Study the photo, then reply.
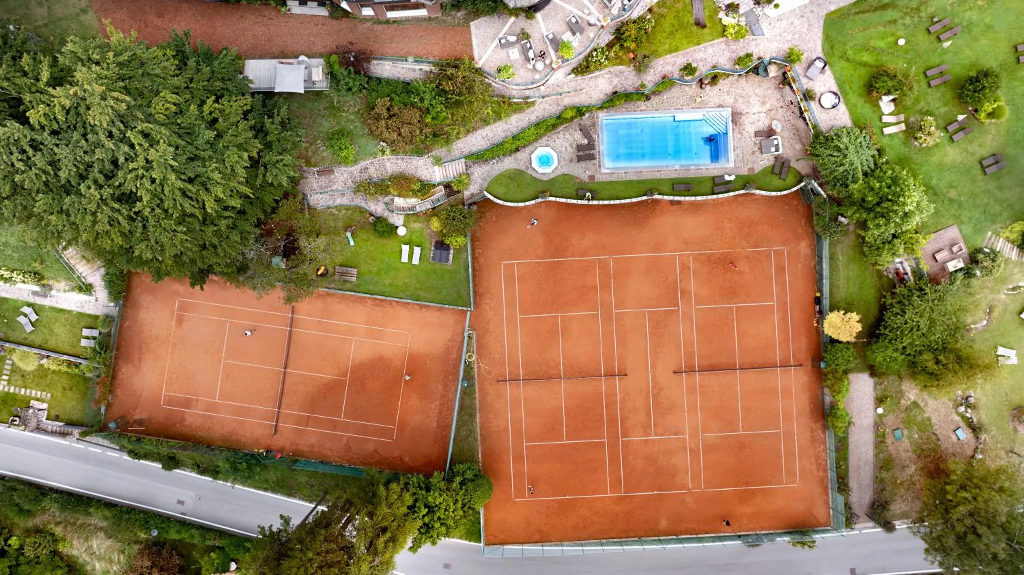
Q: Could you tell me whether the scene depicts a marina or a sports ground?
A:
sports ground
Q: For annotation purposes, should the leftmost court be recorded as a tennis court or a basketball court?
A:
tennis court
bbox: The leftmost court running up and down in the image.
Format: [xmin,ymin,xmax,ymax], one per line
[470,195,624,543]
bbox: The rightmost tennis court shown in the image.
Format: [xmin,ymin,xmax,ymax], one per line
[676,184,830,533]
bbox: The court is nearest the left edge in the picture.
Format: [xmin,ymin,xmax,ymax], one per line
[104,273,472,477]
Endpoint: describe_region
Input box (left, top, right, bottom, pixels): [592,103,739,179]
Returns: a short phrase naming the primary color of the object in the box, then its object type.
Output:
blue swimming pool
